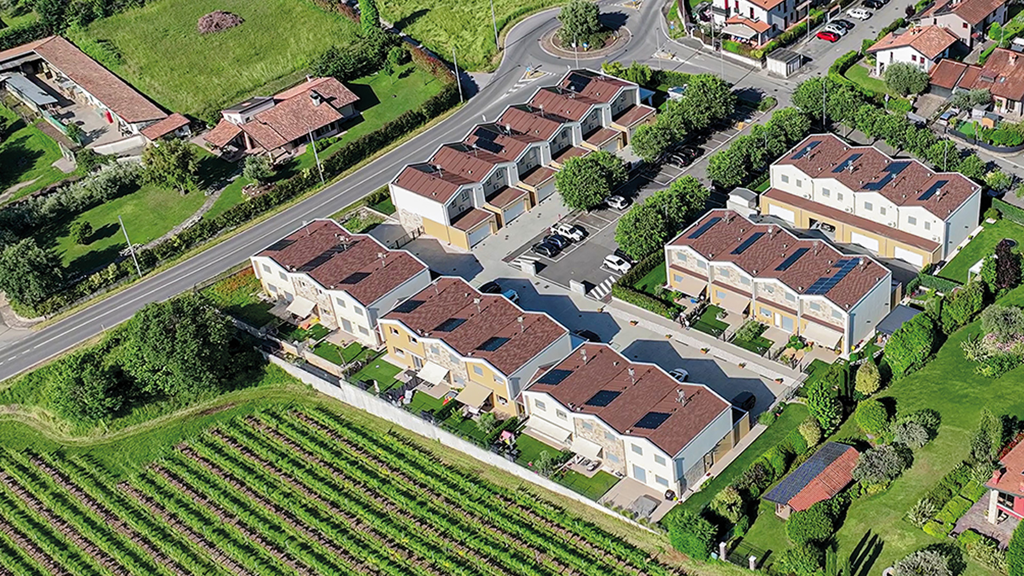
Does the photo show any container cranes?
No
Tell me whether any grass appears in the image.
Yes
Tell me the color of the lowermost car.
black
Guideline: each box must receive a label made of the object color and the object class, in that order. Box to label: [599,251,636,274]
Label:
white car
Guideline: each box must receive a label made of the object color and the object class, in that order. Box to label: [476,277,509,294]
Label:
black car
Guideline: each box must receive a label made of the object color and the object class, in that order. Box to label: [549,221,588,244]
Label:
white car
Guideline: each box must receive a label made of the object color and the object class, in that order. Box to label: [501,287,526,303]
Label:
blue car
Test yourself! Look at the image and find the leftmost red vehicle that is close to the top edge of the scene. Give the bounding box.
[815,28,841,43]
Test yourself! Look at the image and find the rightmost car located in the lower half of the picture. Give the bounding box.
[729,387,762,416]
